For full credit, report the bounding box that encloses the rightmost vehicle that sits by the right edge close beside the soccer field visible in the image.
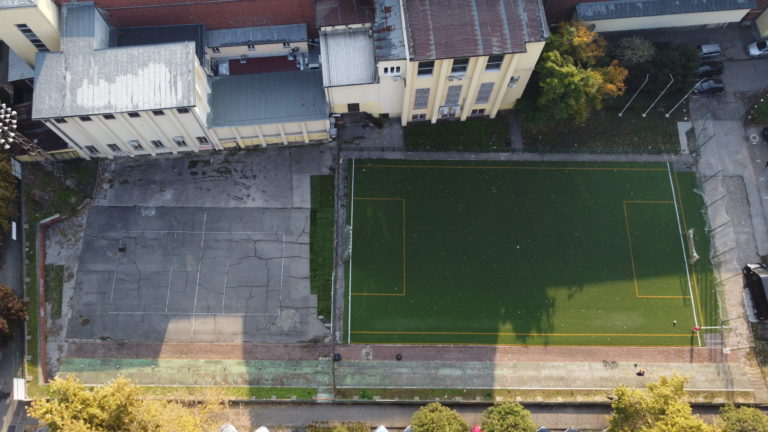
[744,262,768,322]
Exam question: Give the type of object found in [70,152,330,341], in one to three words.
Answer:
sports court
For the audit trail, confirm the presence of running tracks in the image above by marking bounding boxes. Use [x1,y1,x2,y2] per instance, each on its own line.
[58,341,754,400]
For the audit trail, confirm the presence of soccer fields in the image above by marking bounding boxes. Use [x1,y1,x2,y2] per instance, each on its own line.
[342,158,733,347]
